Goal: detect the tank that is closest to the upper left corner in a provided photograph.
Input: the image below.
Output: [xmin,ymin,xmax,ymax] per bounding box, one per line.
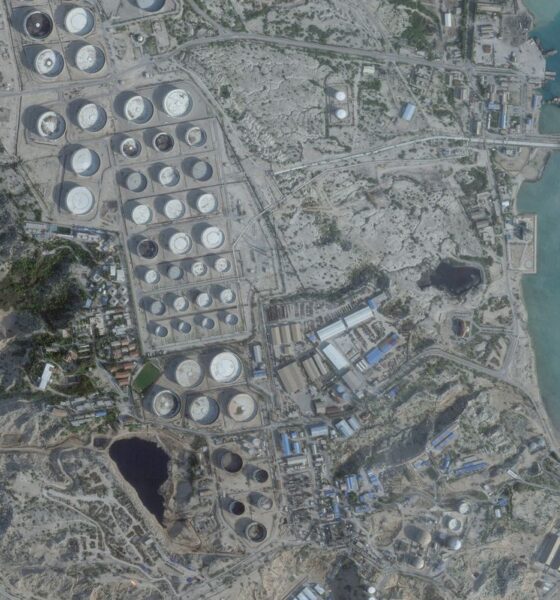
[23,9,55,40]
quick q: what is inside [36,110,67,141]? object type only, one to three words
storage tank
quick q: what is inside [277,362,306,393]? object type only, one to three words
building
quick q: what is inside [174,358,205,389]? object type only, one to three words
storage tank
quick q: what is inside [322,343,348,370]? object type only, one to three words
building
